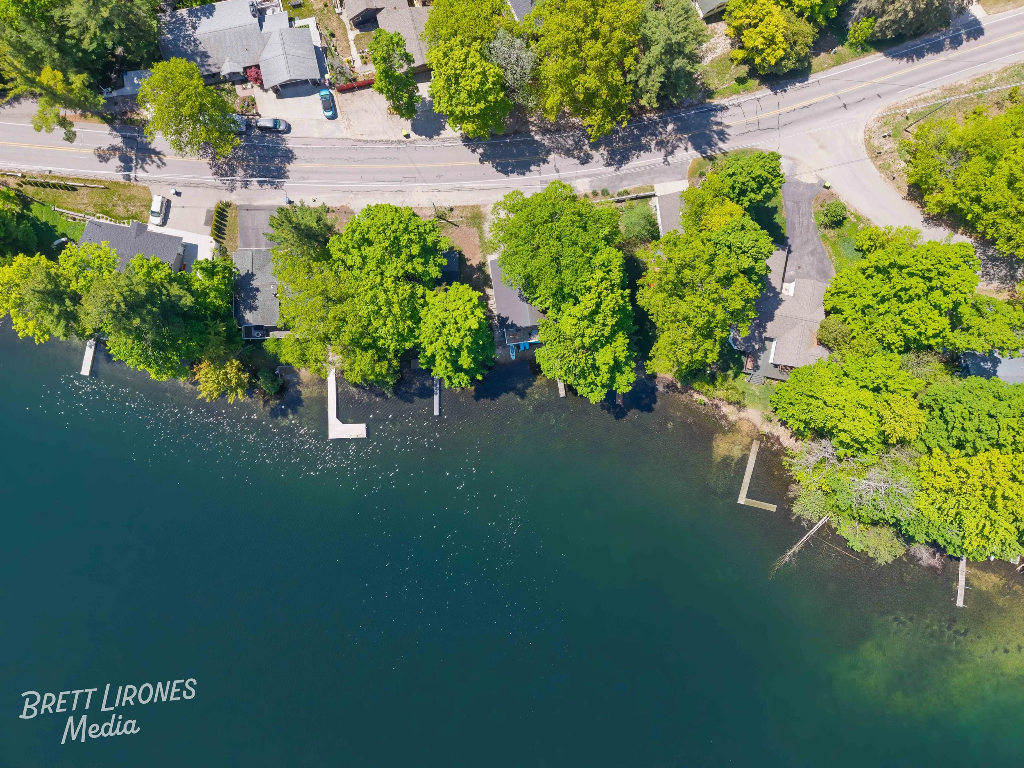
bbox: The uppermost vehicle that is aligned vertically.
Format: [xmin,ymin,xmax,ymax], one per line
[319,90,336,119]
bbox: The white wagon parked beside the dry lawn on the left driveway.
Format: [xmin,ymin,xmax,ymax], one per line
[149,194,169,227]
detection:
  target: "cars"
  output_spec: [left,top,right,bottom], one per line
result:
[149,194,169,227]
[319,90,336,119]
[256,117,287,134]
